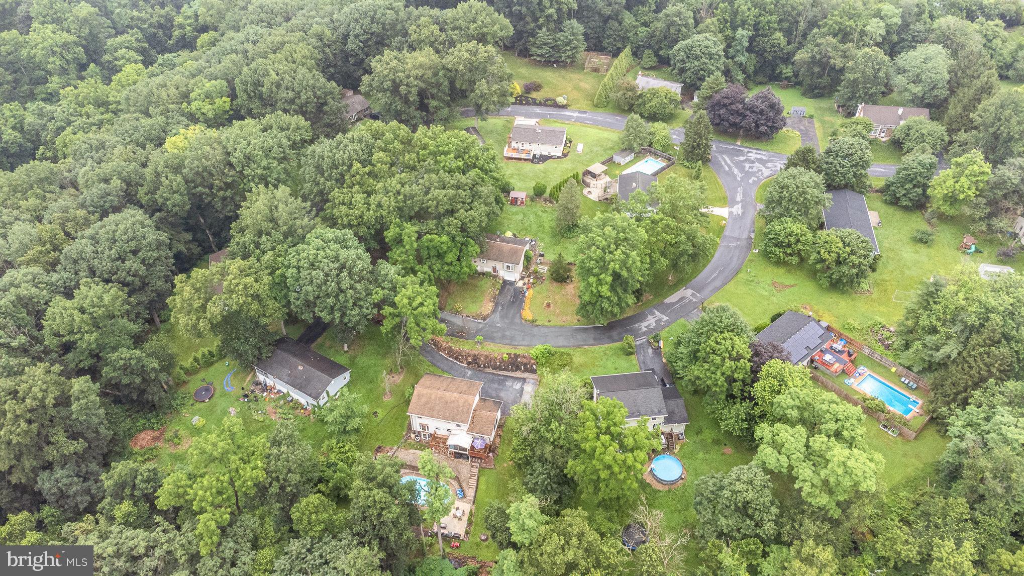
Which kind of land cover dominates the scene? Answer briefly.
trees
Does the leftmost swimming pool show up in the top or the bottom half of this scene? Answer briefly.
bottom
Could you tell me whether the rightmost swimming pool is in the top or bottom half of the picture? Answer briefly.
bottom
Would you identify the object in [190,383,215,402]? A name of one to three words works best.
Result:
trampoline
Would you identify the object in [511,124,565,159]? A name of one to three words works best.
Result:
house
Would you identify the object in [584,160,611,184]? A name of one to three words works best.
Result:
gazebo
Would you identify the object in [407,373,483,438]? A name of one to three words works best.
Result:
house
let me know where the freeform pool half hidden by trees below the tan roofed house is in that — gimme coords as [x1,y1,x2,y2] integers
[405,472,454,511]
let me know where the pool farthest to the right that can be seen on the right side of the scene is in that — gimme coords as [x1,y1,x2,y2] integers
[855,372,919,417]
